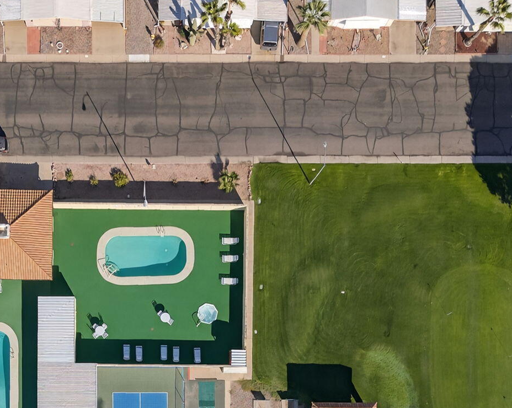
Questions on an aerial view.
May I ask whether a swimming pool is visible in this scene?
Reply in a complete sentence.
Yes, I can see a swimming pool in this picture.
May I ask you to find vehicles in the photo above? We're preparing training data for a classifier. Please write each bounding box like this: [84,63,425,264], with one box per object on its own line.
[262,19,280,49]
[0,136,8,155]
